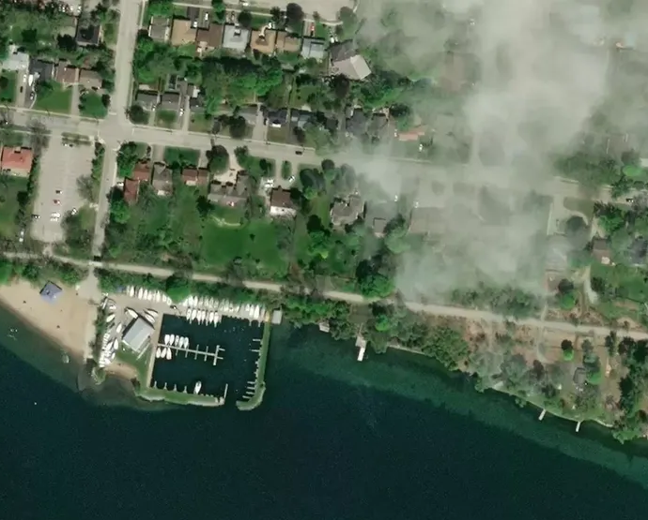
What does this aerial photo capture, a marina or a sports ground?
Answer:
marina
